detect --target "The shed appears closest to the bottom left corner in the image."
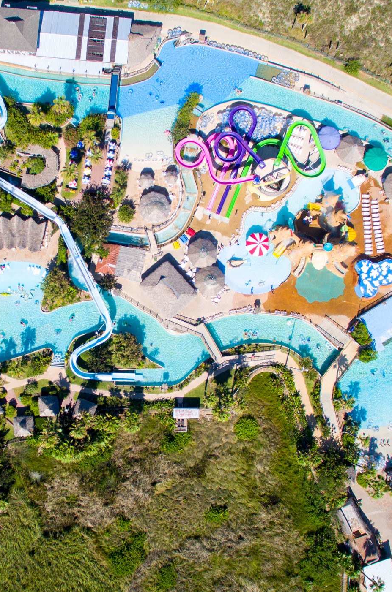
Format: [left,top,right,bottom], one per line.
[13,414,37,437]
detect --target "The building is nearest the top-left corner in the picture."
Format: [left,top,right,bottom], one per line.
[0,7,41,57]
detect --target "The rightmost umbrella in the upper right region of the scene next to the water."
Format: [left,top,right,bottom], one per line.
[361,146,388,172]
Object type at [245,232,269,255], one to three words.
umbrella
